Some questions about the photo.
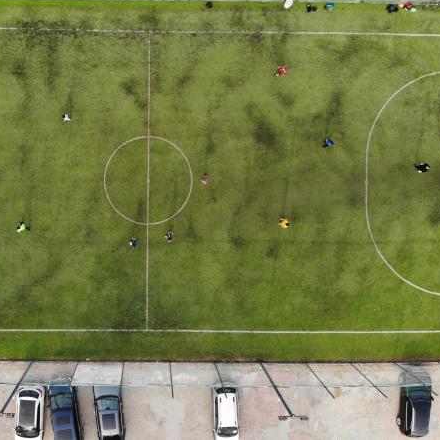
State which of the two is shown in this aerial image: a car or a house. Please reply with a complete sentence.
The one in the frame is a car.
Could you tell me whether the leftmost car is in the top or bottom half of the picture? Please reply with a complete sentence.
You can find the leftmost car in the bottom half.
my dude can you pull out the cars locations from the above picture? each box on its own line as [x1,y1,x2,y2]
[45,373,82,440]
[91,384,126,440]
[396,366,437,440]
[212,380,244,440]
[8,382,44,440]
